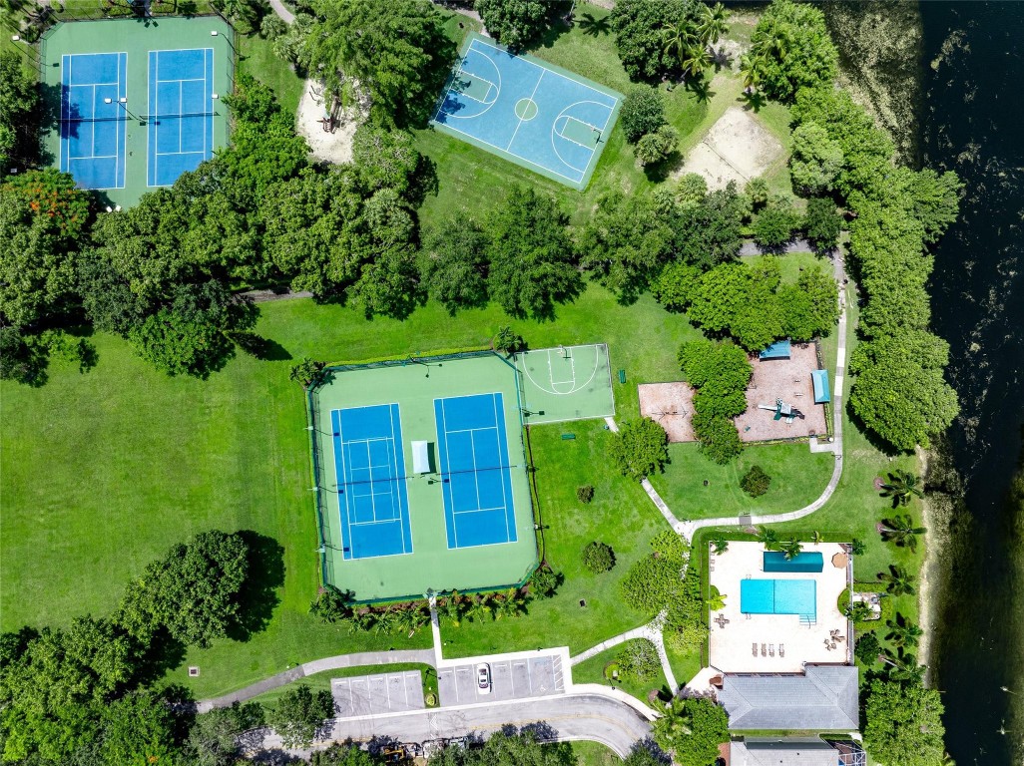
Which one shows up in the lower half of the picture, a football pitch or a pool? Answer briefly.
pool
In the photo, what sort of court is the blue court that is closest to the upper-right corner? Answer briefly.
basketball court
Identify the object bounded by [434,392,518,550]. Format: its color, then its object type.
blue tennis court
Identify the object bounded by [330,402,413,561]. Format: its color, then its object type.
blue tennis court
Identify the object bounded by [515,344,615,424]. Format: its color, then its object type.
green basketball court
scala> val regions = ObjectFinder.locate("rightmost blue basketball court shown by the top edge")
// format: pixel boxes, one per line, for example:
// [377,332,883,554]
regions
[432,30,625,192]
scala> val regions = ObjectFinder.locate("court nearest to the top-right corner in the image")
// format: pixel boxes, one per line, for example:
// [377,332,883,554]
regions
[671,105,788,194]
